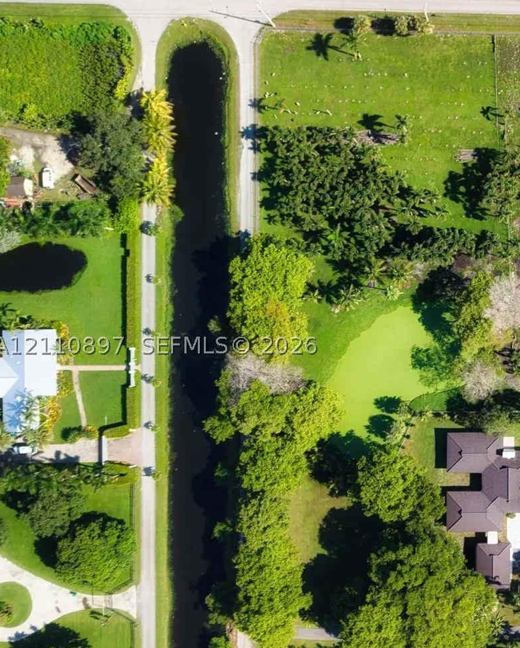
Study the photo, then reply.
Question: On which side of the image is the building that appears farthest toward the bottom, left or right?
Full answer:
It is on the right.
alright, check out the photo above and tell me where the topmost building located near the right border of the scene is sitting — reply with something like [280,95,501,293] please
[446,432,520,532]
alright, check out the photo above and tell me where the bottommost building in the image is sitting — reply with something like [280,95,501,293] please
[476,543,511,591]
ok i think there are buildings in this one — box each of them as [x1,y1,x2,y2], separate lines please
[7,176,30,197]
[446,432,520,532]
[0,329,61,432]
[476,543,511,591]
